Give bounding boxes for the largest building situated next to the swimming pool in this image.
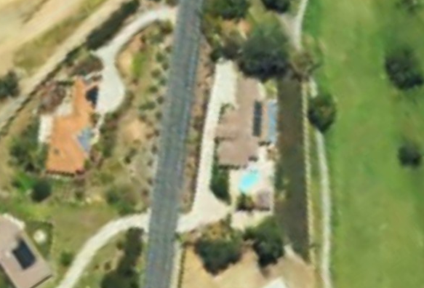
[216,76,277,167]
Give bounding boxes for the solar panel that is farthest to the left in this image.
[10,239,35,269]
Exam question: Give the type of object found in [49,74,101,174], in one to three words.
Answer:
house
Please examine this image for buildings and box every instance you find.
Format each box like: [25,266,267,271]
[216,76,277,167]
[0,215,51,288]
[257,189,271,209]
[49,74,101,174]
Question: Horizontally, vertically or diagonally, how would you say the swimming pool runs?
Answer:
diagonally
